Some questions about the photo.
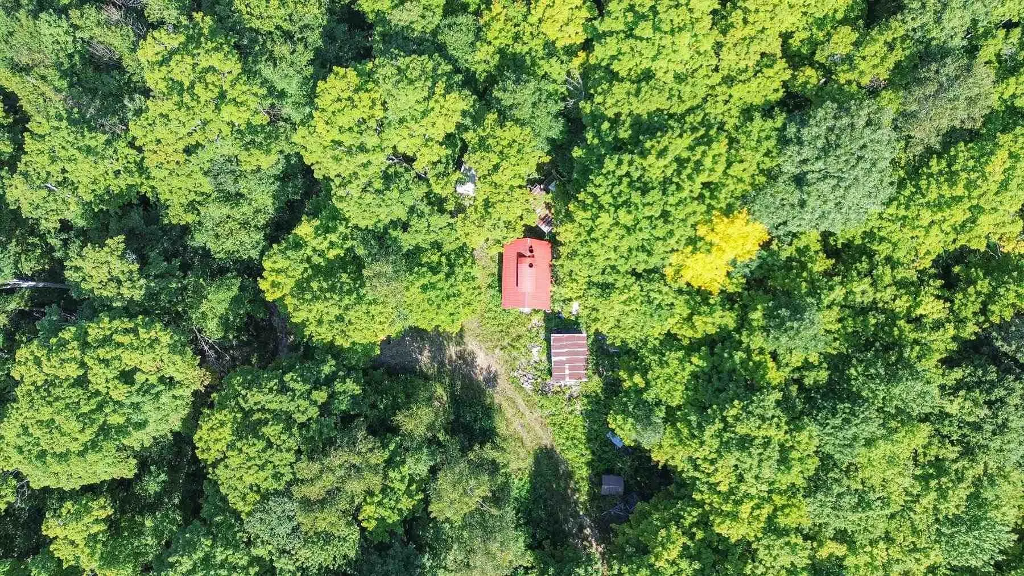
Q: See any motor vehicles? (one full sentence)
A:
No, no motor vehicle can be seen from above.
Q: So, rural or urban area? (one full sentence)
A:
From above, the setting appears rural.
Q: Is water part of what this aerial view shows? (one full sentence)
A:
No, there's no water in this view.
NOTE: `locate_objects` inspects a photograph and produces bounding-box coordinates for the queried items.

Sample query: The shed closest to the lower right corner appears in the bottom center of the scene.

[600,471,624,495]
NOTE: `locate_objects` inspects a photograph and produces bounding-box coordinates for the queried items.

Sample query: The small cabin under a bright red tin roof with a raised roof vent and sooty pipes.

[502,238,552,313]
